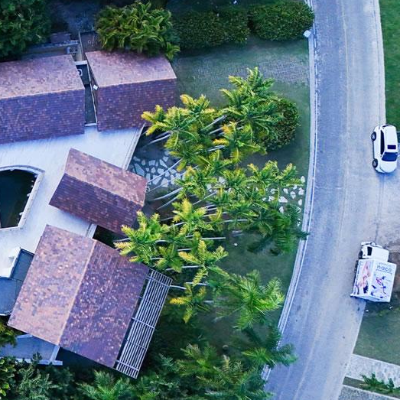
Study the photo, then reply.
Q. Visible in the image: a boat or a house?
house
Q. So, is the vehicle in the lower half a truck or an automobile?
truck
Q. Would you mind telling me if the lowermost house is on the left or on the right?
left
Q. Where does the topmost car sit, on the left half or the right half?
right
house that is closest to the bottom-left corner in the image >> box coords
[8,226,149,368]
